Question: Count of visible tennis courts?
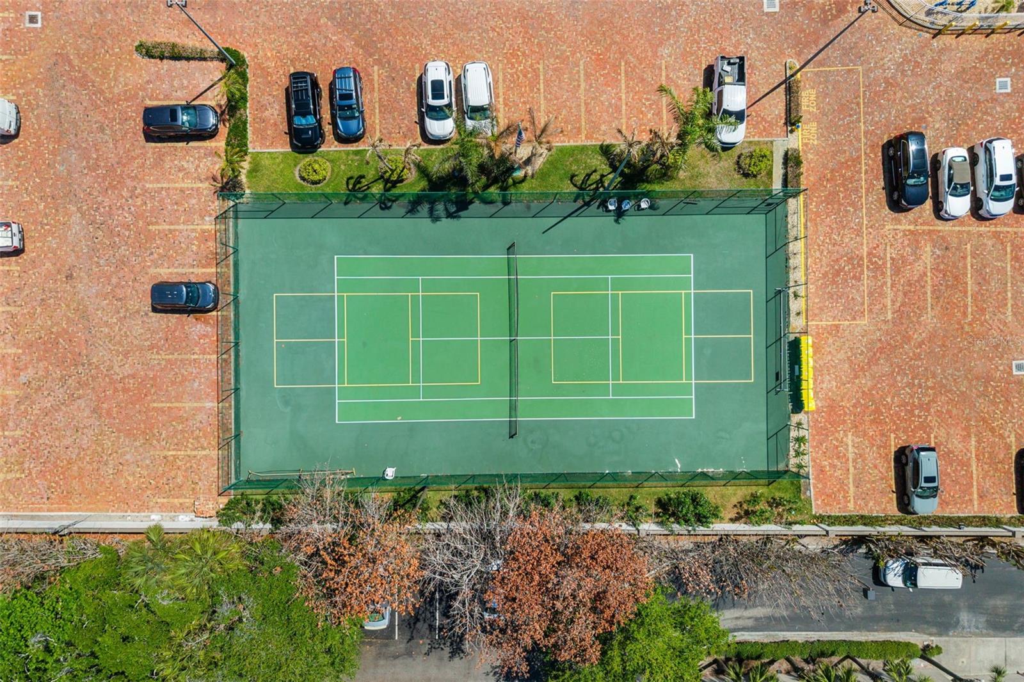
1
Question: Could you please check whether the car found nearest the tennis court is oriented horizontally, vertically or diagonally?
horizontally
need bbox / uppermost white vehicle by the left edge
[0,103,26,136]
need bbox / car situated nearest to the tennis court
[151,276,221,312]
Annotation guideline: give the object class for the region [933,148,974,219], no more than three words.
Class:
car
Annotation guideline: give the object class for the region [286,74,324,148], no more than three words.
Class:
car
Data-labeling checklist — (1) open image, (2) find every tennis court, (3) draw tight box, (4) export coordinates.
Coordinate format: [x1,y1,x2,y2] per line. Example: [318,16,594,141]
[233,200,791,482]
